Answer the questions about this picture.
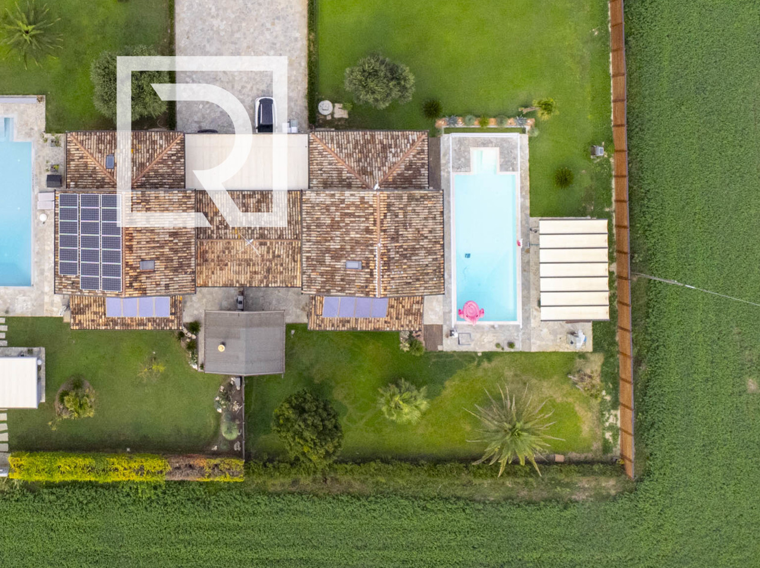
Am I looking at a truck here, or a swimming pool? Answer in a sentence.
I can see a swimming pool in this picture.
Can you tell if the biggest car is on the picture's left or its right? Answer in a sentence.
You can find the biggest car on the left side of the picture.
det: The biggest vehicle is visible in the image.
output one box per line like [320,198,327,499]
[254,99,275,134]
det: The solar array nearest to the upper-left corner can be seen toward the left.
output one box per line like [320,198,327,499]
[58,194,121,290]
